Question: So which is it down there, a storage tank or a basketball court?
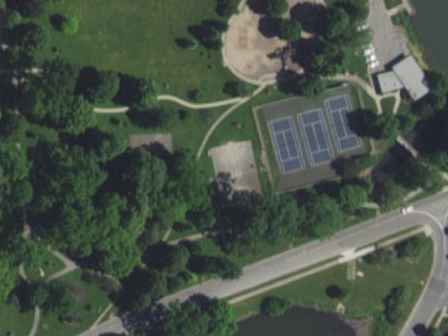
basketball court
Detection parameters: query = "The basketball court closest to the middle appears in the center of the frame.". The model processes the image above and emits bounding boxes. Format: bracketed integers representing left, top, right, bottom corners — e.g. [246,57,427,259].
[210,141,261,204]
